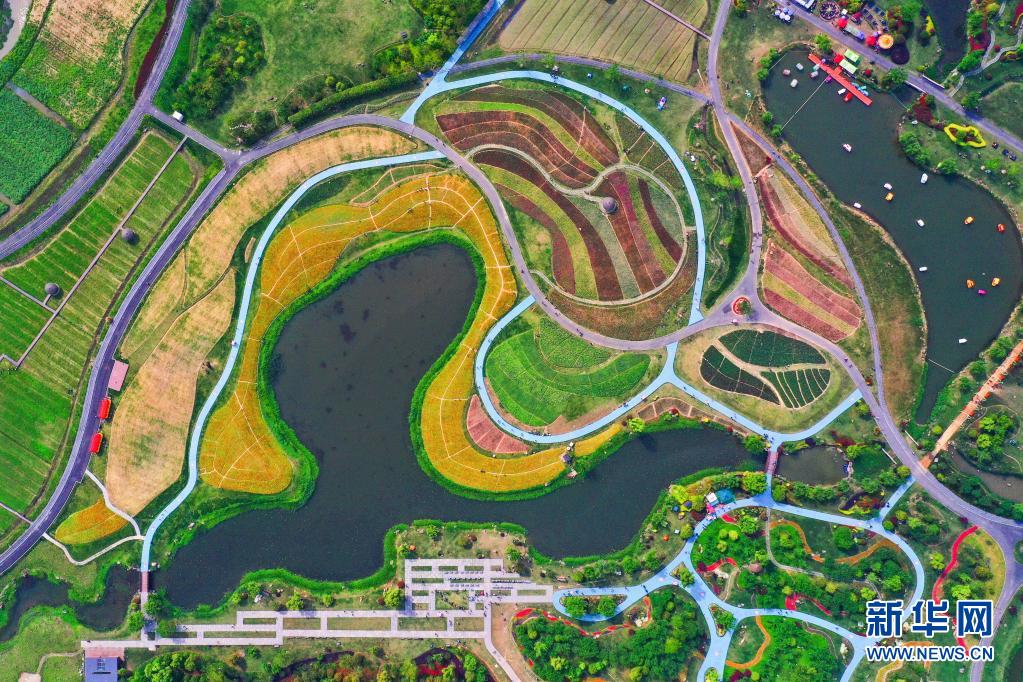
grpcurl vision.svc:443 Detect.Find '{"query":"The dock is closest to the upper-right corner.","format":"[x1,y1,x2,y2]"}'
[807,54,872,105]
